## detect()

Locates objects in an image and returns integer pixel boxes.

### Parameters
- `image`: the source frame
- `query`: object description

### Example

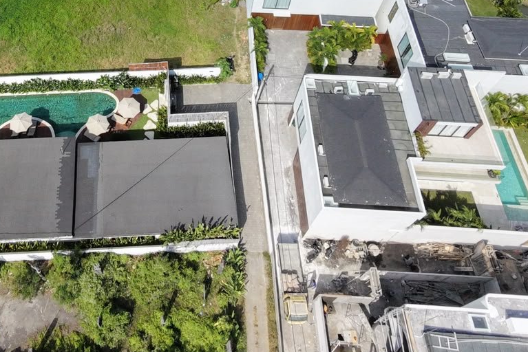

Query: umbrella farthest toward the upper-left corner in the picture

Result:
[9,113,32,134]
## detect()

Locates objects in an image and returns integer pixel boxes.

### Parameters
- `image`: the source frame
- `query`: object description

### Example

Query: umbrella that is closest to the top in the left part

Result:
[116,97,140,118]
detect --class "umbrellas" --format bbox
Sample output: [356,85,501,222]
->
[116,97,140,118]
[86,115,110,137]
[9,113,32,134]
